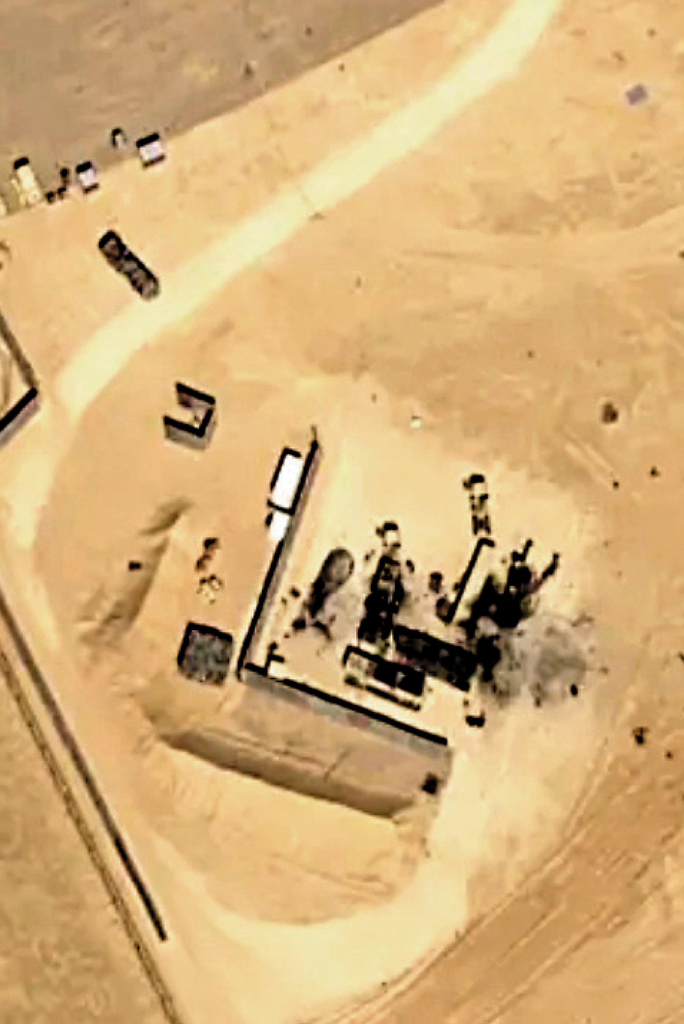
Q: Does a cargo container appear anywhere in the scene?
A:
Yes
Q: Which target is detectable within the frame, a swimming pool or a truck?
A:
truck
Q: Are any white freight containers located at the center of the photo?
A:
Yes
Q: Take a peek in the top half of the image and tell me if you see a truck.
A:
Yes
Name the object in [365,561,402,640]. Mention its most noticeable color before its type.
black trailer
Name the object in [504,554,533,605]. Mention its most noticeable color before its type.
black truck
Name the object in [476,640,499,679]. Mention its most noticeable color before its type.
black truck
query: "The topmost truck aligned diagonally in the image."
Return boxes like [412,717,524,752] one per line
[100,240,158,304]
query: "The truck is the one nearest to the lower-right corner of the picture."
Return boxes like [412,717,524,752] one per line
[463,680,488,726]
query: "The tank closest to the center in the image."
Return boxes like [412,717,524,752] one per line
[313,558,357,622]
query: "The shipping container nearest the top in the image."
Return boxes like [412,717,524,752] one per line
[273,456,305,507]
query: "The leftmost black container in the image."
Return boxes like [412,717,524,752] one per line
[388,629,480,687]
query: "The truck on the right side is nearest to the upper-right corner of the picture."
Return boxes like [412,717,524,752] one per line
[469,485,496,538]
